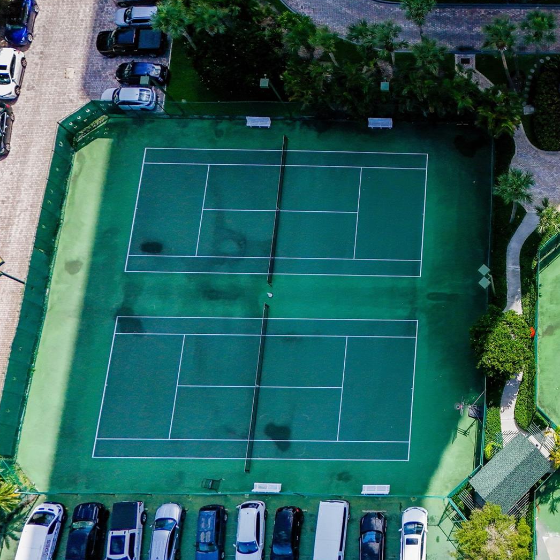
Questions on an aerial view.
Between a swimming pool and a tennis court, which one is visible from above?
tennis court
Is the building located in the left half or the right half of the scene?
right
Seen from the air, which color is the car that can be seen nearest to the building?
white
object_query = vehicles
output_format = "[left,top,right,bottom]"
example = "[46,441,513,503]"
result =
[110,502,150,560]
[0,105,18,155]
[11,502,70,560]
[103,87,161,115]
[113,0,167,9]
[149,503,187,560]
[99,29,169,60]
[355,513,388,560]
[314,500,351,560]
[67,505,110,560]
[194,505,230,560]
[117,62,172,89]
[116,4,167,31]
[269,508,305,560]
[0,49,29,99]
[398,508,429,560]
[233,502,270,560]
[11,0,44,43]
